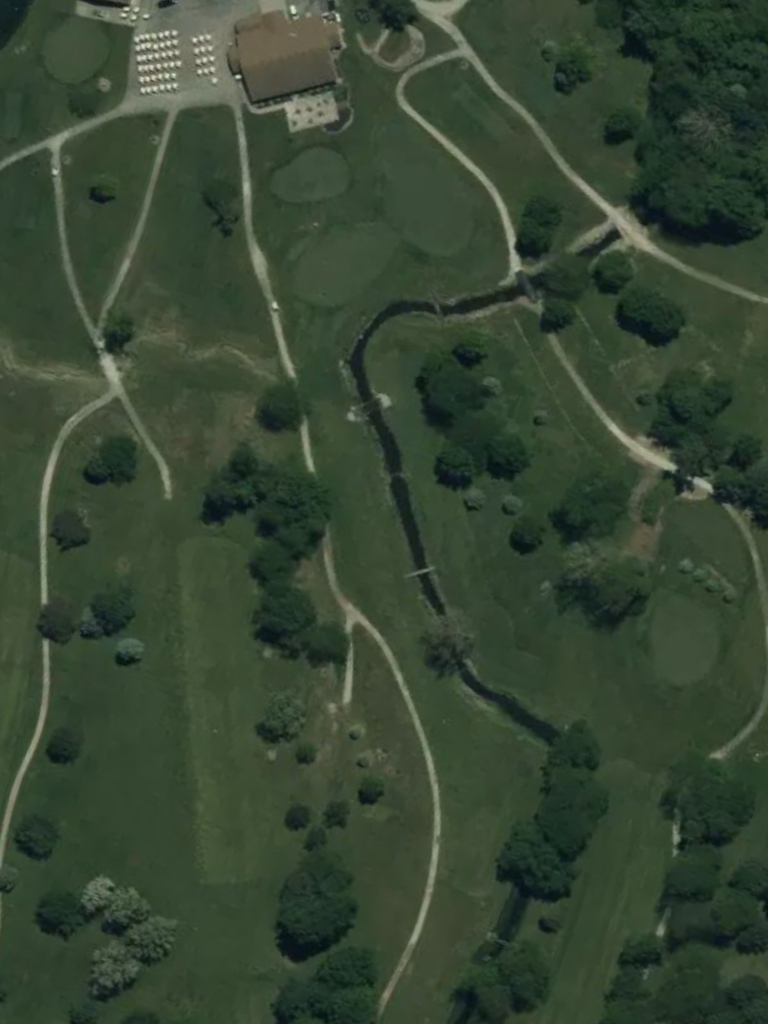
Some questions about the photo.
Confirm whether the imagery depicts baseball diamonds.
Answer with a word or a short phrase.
No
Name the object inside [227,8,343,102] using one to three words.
building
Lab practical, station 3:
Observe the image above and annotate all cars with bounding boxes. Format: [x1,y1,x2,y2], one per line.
[158,0,178,6]
[328,0,337,12]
